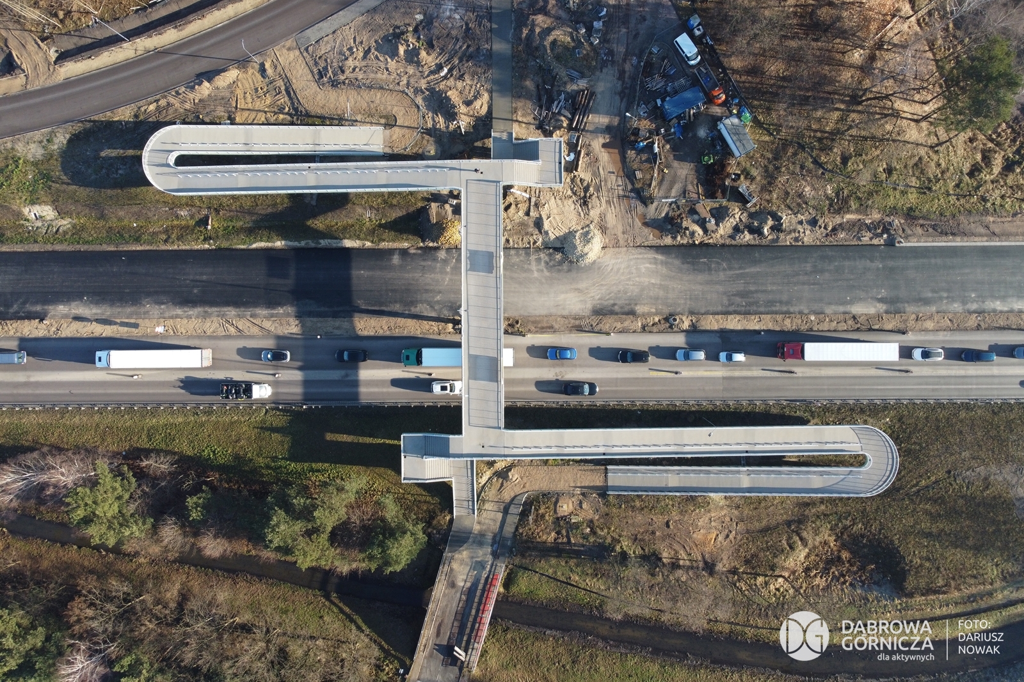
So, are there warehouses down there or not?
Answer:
No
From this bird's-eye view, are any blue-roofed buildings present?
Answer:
No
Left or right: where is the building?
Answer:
right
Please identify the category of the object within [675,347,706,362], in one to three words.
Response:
car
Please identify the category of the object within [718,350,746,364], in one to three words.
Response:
car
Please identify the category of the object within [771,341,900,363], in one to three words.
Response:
truck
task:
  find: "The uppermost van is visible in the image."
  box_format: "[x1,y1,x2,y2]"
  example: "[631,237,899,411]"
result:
[674,25,703,65]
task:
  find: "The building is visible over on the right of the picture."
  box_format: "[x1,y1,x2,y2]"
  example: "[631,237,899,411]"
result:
[719,107,762,158]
